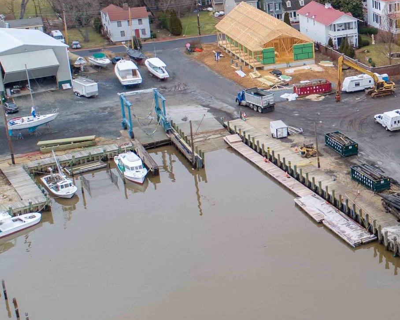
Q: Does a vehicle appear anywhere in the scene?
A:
Yes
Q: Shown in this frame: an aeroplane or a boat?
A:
boat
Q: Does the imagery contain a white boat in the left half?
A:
Yes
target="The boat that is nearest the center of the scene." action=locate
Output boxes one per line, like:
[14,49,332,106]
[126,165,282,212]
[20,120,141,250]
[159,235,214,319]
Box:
[109,140,143,180]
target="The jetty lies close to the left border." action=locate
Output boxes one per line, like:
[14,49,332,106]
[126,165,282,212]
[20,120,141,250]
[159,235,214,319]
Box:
[0,143,115,215]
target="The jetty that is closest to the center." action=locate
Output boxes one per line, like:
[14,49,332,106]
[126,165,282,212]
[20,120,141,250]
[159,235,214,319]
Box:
[166,119,206,171]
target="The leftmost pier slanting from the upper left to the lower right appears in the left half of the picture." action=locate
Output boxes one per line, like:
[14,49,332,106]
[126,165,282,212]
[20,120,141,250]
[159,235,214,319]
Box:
[131,136,160,175]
